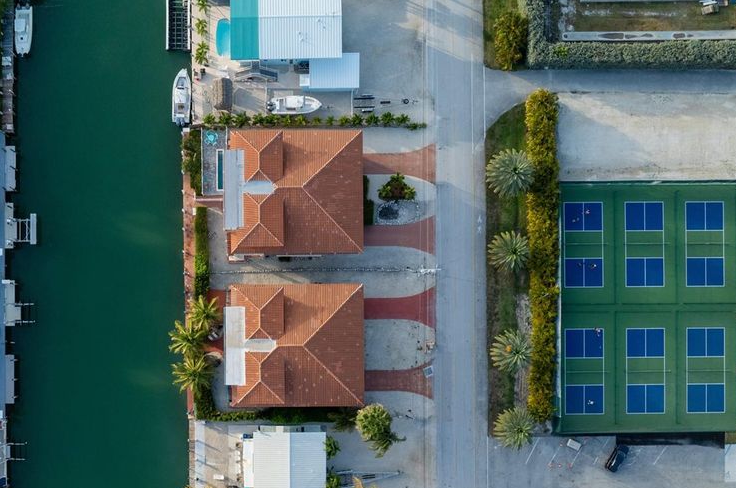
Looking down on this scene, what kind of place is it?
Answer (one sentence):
This image shows a residential area.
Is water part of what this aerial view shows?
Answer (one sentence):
Yes, the picture does contain water.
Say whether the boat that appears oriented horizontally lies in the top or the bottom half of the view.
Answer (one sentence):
You can find the boat that appears oriented horizontally in the top half.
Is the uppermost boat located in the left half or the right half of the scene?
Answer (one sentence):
You can find the uppermost boat on the left side of the picture.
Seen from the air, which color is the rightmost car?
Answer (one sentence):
In this view, the rightmost car is black.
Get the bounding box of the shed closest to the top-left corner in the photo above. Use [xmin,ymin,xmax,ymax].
[210,71,233,108]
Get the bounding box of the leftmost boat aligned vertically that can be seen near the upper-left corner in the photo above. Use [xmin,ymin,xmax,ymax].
[8,0,32,56]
